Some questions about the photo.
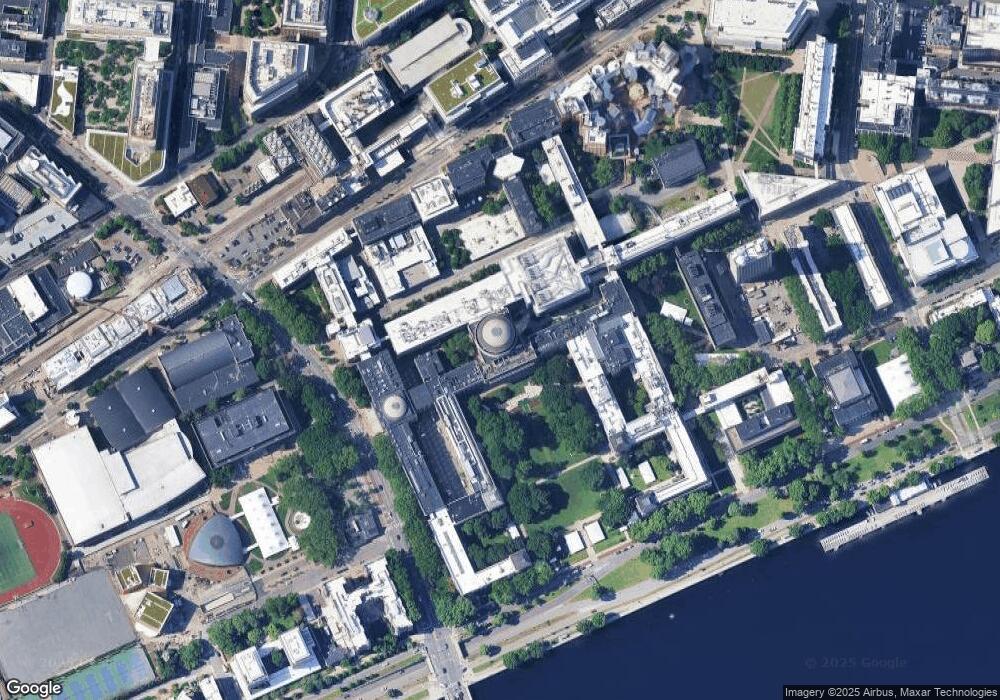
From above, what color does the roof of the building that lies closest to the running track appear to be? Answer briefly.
white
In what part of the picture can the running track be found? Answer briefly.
bottom left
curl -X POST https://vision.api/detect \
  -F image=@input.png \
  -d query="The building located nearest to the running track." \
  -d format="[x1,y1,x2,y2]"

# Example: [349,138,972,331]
[33,426,137,549]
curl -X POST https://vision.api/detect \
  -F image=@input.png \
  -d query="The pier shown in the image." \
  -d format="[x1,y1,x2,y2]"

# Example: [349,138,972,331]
[820,467,989,552]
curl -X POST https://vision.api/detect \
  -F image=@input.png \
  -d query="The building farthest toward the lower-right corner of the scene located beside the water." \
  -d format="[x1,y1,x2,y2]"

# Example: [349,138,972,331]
[891,481,929,507]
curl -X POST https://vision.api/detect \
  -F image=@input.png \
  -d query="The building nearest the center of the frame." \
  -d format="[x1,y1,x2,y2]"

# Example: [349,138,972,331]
[468,307,537,392]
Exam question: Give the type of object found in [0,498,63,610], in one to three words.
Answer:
running track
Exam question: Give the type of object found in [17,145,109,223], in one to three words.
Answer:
building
